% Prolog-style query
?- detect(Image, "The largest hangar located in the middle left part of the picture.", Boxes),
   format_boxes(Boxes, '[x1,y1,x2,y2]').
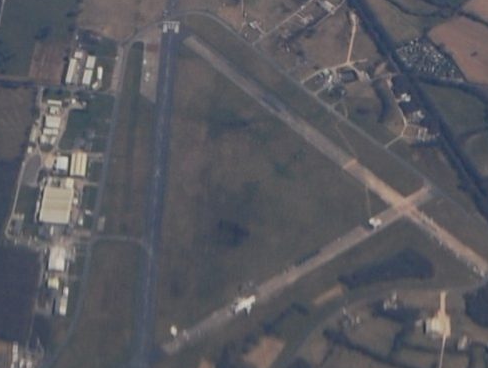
[40,187,75,226]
